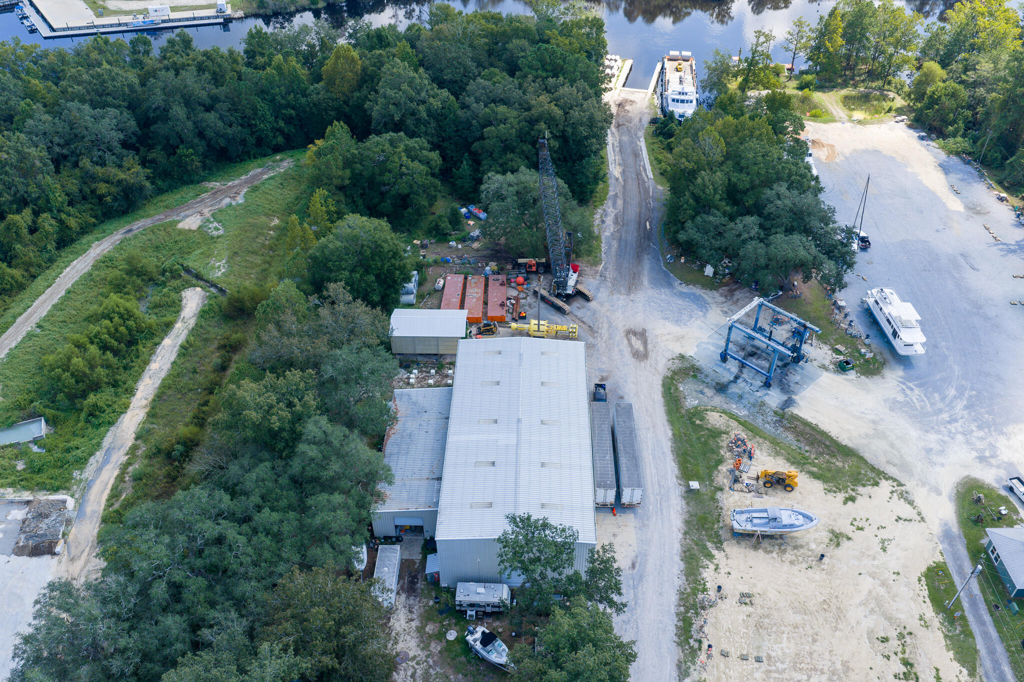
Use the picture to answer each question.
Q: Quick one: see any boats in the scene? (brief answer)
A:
Yes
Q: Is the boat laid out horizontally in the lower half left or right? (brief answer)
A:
right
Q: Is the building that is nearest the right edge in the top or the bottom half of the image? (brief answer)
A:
bottom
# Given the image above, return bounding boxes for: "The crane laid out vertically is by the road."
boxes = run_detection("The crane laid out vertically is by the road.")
[535,131,593,314]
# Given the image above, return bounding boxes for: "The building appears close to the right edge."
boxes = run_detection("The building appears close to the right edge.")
[979,528,1024,603]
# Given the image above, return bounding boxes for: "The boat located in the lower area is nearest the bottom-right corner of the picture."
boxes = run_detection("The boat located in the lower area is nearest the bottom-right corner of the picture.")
[727,509,820,542]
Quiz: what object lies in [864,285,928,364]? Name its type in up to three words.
boat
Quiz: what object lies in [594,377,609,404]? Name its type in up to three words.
vehicle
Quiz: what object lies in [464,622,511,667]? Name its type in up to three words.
boat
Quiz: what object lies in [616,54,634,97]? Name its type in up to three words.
pier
